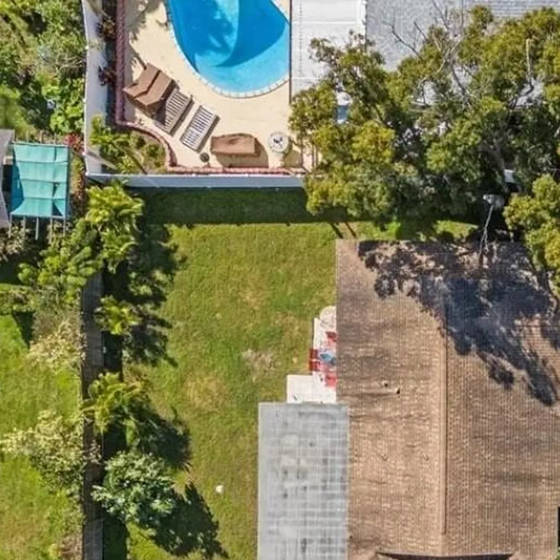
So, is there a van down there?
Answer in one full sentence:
No, there's no van here.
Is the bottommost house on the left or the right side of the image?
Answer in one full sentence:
The bottommost house is on the right side of the image.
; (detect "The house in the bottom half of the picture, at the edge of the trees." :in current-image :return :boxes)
[258,234,560,560]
